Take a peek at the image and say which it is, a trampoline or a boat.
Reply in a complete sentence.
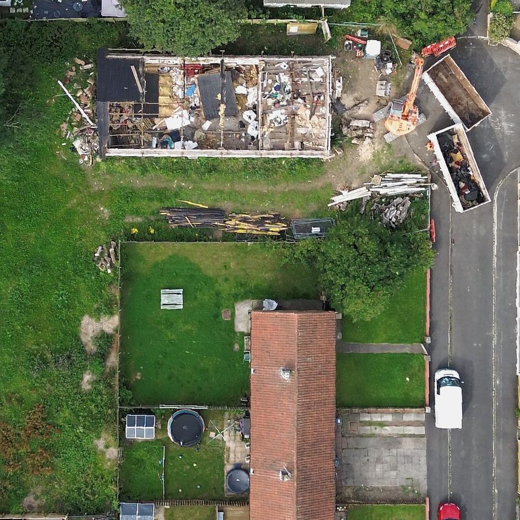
This aerial view contains a trampoline.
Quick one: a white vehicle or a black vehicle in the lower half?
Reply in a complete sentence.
The one visible in the lower half is a white vehicle.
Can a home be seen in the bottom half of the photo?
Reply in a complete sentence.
Yes, you'll find a home in the bottom half of the photo.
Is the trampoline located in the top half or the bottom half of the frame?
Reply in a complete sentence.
It is in the bottom half that the trampoline appears.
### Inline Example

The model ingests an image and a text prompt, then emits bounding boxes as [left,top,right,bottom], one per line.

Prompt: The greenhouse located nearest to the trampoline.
[125,414,155,439]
